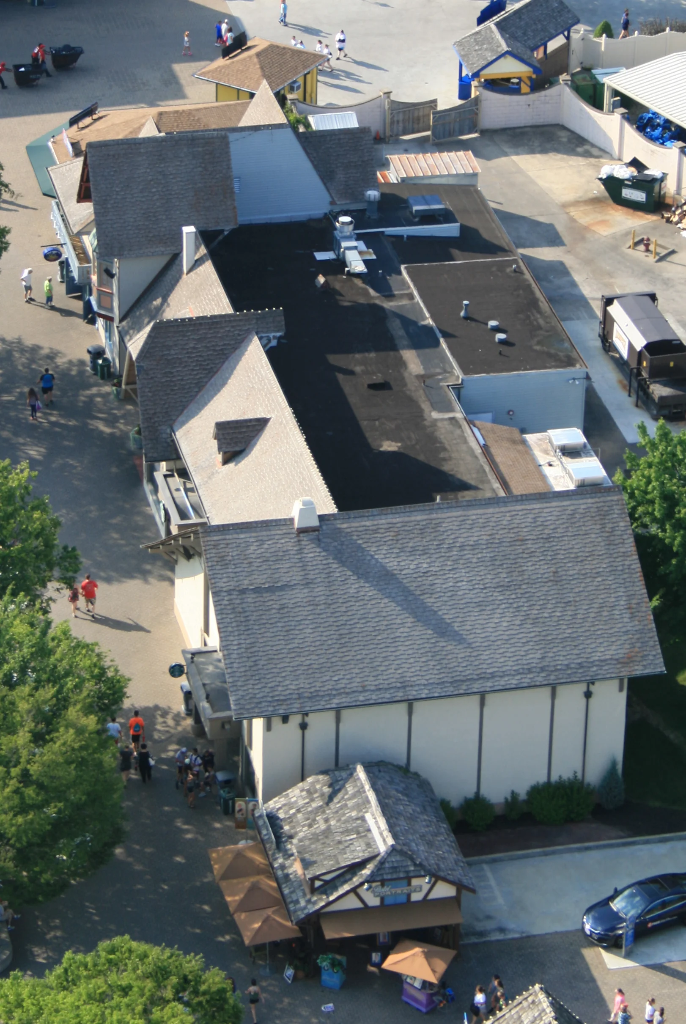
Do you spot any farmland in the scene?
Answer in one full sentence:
No, there's no farmland in this view.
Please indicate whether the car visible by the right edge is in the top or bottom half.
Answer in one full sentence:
The bottom half of the photo is where the car visible by the right edge is.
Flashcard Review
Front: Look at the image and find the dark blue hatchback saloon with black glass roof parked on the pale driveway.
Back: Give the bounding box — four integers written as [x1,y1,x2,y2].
[577,870,686,947]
